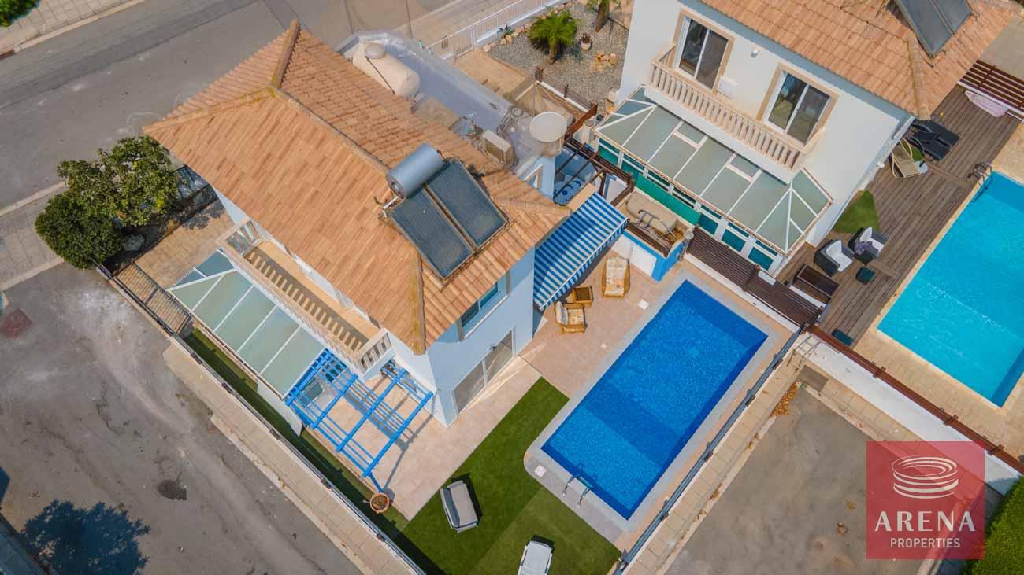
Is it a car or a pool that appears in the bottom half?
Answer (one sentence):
Visible in the bottom half is a pool.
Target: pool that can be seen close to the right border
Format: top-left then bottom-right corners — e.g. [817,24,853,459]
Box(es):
[873,166,1024,422]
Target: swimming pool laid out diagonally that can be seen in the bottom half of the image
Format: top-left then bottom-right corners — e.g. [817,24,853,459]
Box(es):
[524,271,783,547]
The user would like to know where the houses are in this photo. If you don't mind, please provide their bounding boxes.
[143,17,599,439]
[591,0,1018,286]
